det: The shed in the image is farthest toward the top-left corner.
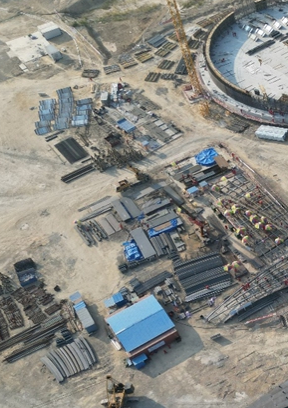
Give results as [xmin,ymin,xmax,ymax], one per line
[37,23,63,41]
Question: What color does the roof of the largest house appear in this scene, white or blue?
blue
